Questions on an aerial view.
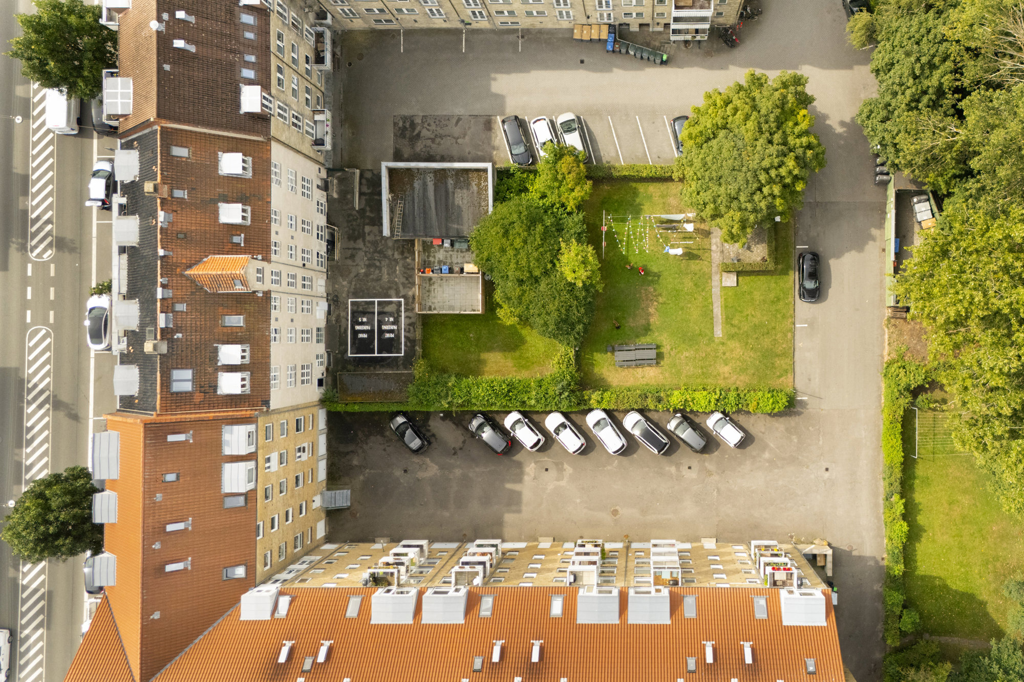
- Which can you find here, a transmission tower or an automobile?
automobile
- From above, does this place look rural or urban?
urban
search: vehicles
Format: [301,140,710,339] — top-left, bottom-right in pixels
[665,413,708,454]
[503,114,532,164]
[671,112,690,140]
[81,295,109,349]
[88,92,114,135]
[585,409,629,457]
[532,115,560,152]
[82,548,104,596]
[390,411,431,456]
[706,414,745,448]
[624,412,669,456]
[504,410,545,453]
[797,250,822,302]
[84,163,112,210]
[560,111,589,159]
[469,412,512,457]
[49,90,85,140]
[545,411,586,455]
